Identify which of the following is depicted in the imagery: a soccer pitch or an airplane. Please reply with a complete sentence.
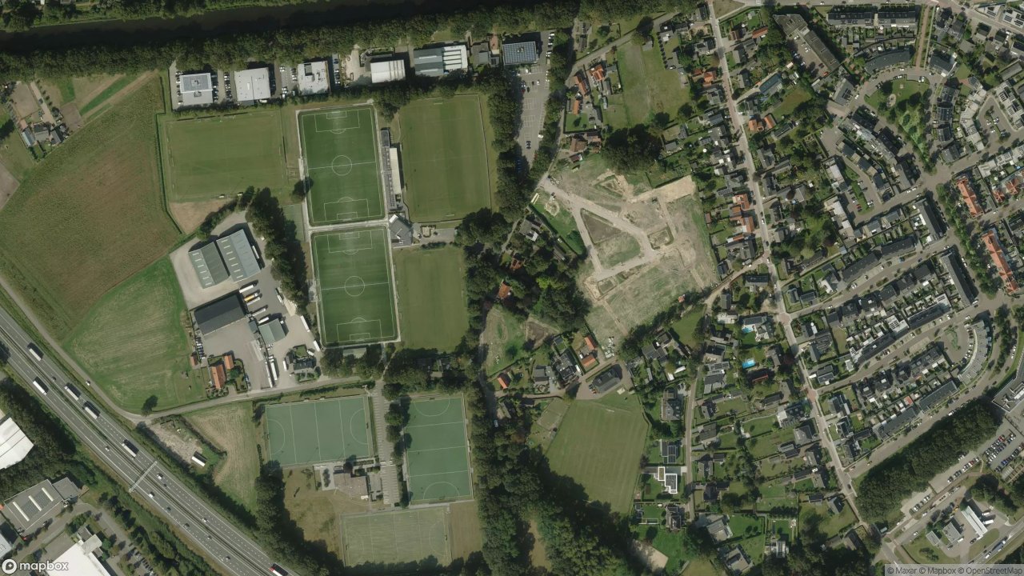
Visible in the photo is a soccer pitch.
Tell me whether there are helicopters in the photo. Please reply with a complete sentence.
No, I find no helicopter anywhere in the image.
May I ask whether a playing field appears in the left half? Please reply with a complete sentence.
Yes, a playing field can be seen in the left half.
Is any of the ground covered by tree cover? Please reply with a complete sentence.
Yes, there is tree cover in the image.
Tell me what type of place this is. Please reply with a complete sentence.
This looks like a residential area.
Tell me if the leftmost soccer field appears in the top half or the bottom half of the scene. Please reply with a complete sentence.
You can find the leftmost soccer field in the top half.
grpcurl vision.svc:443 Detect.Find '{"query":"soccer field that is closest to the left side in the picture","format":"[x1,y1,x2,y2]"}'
[166,109,285,200]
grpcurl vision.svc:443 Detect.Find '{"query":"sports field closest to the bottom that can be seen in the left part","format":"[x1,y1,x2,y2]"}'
[342,506,453,569]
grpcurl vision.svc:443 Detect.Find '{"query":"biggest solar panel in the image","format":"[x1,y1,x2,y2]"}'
[503,42,536,63]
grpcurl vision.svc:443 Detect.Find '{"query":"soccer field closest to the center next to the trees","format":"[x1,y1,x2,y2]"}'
[394,245,469,350]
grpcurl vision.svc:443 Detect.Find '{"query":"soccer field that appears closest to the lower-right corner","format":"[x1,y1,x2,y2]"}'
[549,398,649,513]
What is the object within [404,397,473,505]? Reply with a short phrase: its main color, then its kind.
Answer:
green sports field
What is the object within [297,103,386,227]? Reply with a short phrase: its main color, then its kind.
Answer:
green soccer field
